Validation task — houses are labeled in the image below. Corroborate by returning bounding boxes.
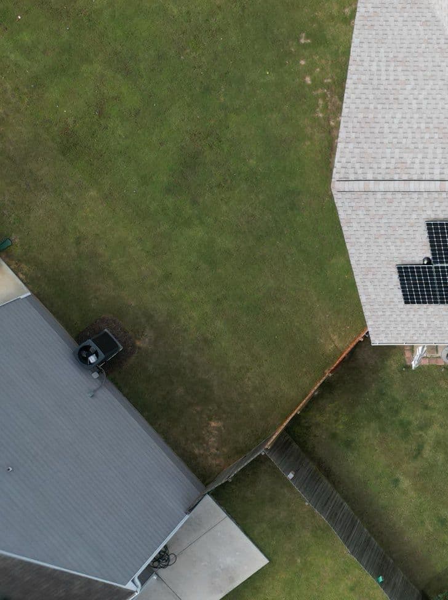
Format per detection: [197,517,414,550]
[331,0,448,350]
[0,293,210,600]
